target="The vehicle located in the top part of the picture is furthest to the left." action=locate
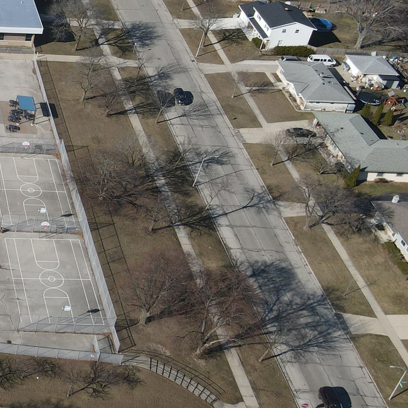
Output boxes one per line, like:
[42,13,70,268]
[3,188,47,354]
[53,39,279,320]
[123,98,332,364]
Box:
[172,87,187,103]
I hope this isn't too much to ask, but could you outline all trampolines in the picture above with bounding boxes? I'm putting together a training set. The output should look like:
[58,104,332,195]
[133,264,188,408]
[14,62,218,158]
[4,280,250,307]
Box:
[358,89,383,103]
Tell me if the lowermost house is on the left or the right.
right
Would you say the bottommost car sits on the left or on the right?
right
